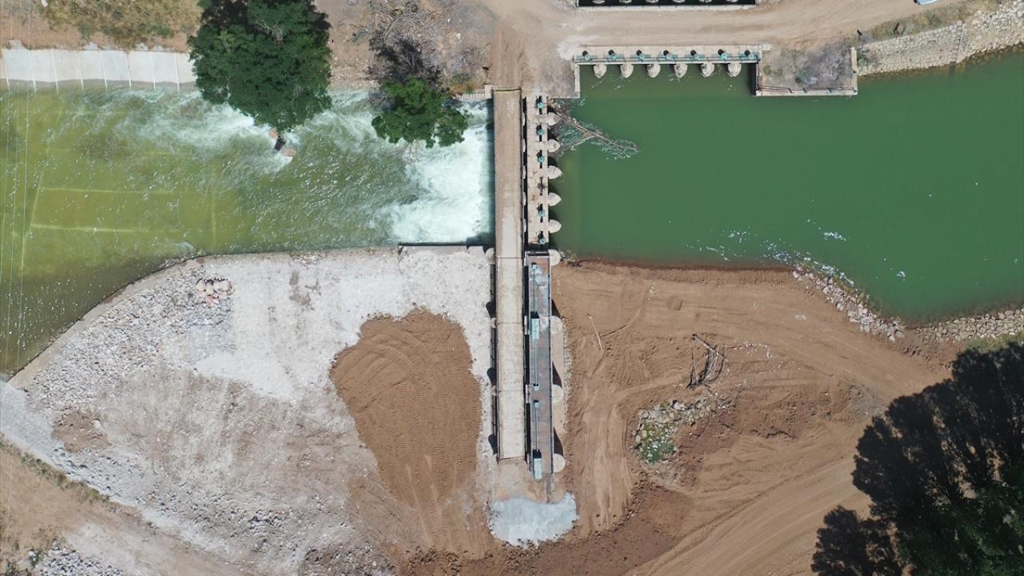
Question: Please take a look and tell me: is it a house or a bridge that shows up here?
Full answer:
I can see a bridge in this picture.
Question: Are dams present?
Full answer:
Yes, there's a dam here.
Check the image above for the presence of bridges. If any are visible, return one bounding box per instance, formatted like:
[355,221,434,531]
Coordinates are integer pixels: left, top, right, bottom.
[490,87,526,460]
